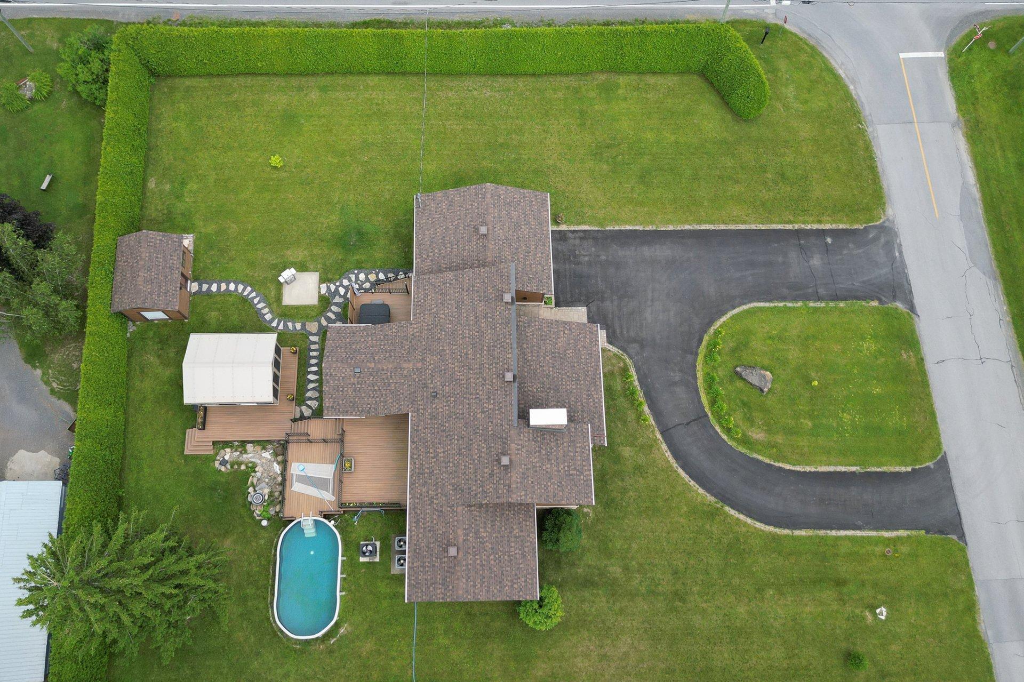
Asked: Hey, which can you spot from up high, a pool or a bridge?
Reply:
pool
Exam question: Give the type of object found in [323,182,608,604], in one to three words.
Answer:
house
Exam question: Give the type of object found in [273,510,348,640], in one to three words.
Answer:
swimming pool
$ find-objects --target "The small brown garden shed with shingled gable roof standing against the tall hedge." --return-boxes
[110,230,195,325]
